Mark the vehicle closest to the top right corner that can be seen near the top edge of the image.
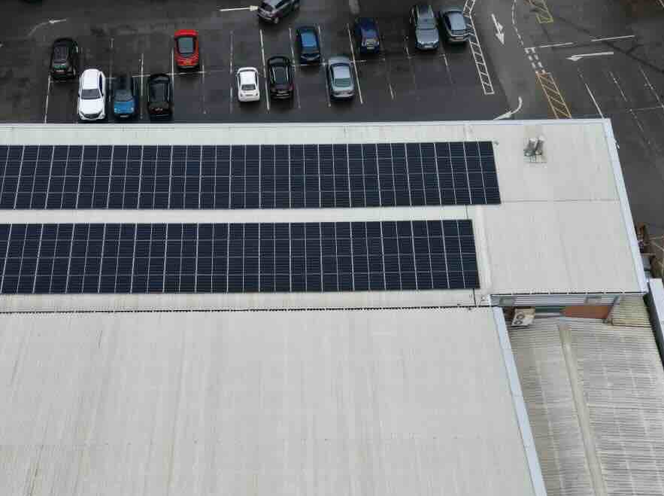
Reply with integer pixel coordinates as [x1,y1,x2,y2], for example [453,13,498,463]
[442,9,470,47]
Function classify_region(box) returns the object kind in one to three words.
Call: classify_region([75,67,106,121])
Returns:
car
